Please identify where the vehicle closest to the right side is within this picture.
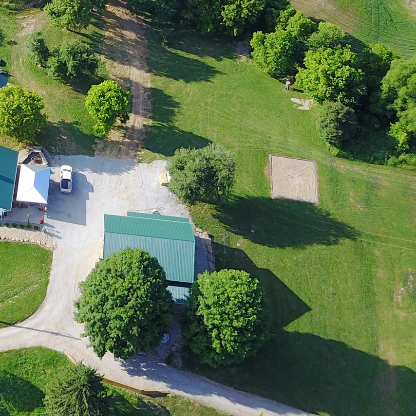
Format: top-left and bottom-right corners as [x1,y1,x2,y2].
[59,164,74,195]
